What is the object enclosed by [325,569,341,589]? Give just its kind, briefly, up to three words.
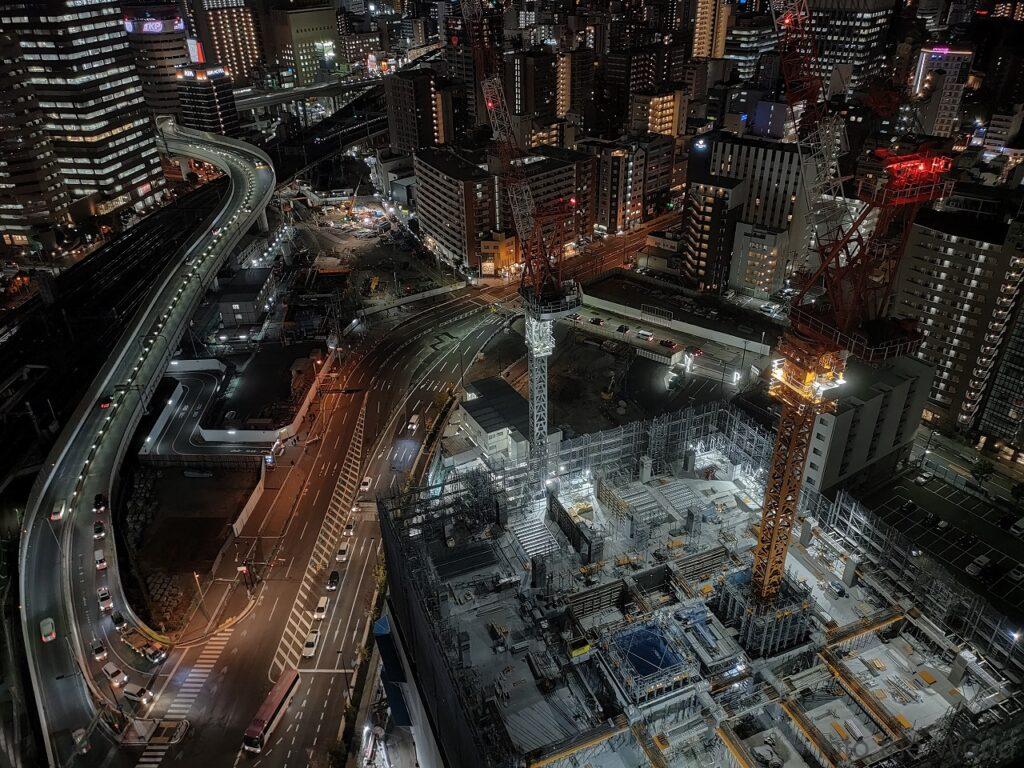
car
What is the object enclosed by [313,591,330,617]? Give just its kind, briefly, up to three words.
car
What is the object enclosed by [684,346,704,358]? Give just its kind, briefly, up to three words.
vehicle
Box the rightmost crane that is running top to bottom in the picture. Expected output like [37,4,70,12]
[745,0,956,638]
